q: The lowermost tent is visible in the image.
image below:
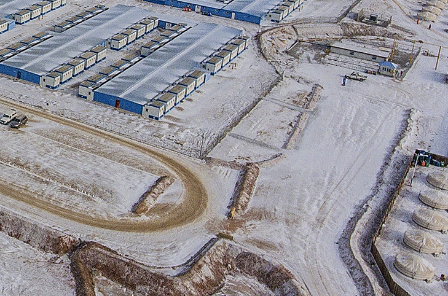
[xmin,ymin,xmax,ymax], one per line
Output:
[390,251,441,284]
